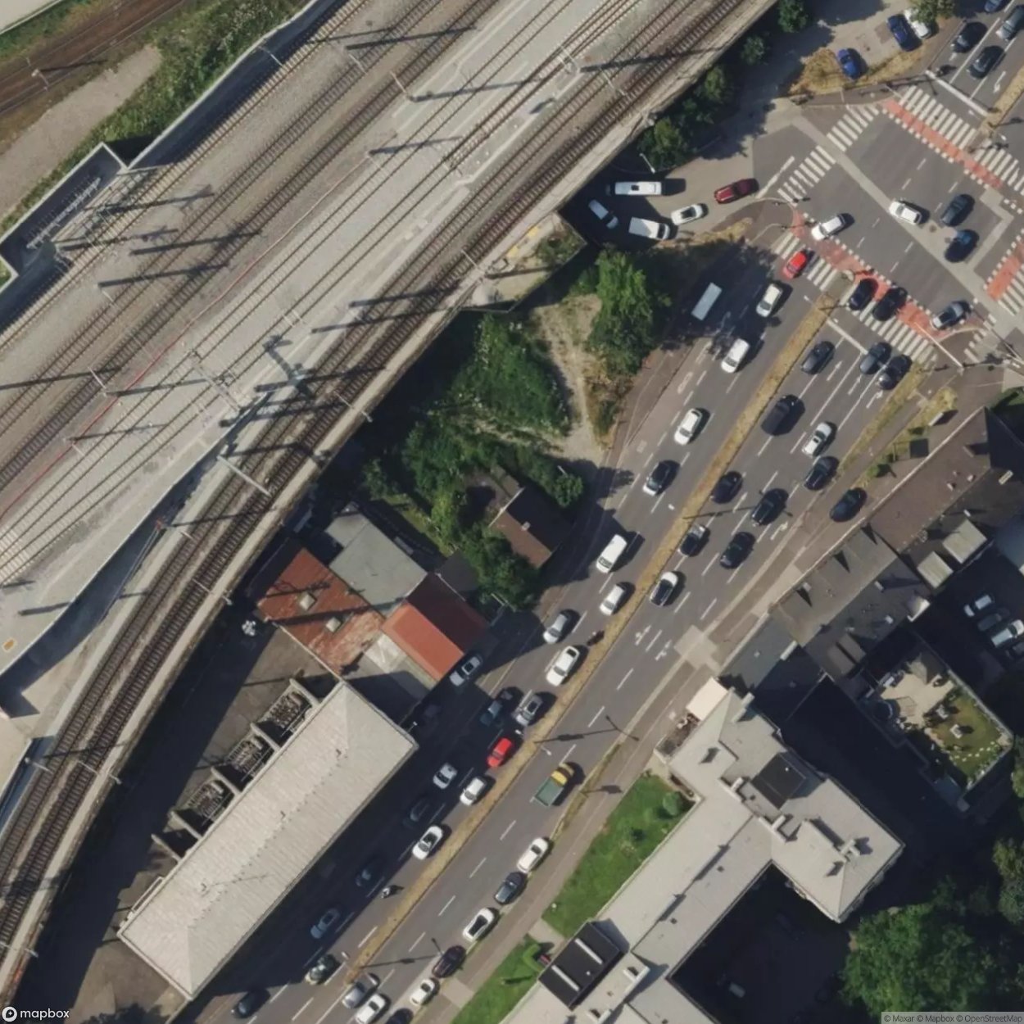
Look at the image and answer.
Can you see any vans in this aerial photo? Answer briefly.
Yes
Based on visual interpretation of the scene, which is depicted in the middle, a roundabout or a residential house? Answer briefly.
residential house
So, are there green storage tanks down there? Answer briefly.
No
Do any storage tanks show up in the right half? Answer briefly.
No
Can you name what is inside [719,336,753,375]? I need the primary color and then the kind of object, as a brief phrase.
white car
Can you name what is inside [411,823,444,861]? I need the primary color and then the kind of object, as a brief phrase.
white car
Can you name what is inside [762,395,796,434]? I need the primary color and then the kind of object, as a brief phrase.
black car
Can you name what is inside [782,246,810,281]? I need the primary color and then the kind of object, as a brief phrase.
red car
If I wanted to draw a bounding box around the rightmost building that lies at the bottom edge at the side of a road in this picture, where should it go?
[498,689,905,1024]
